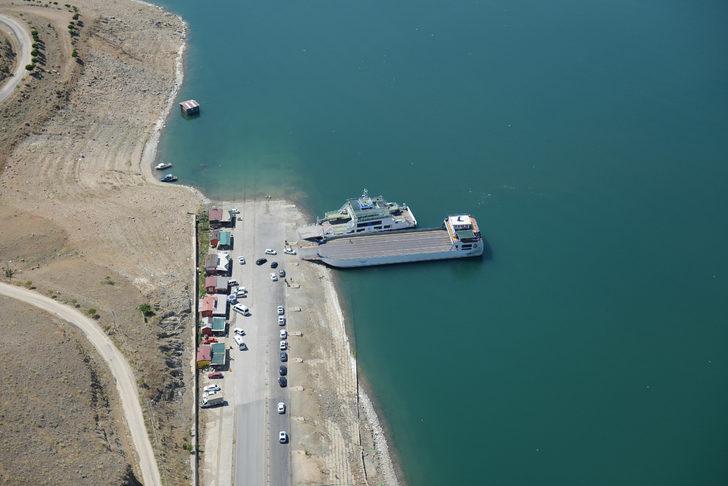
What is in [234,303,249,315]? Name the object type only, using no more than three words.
vehicle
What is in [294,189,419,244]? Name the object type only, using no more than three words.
ship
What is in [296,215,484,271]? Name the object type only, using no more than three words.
ship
